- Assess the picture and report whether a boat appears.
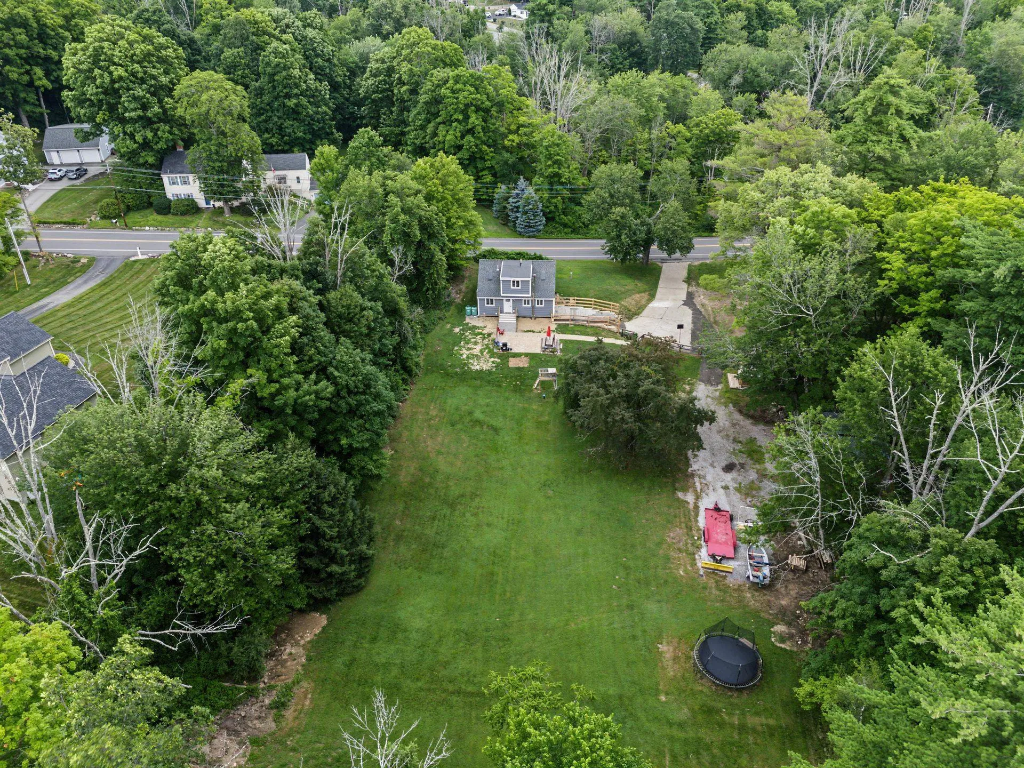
Yes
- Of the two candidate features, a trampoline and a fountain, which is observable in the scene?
trampoline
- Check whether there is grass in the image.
Yes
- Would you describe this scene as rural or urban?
rural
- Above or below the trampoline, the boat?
above it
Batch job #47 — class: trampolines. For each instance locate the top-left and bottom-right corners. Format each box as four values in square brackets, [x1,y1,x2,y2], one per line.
[693,615,768,698]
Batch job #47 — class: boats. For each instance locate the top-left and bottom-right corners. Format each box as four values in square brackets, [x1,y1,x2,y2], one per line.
[744,544,772,590]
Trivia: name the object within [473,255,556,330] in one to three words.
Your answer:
house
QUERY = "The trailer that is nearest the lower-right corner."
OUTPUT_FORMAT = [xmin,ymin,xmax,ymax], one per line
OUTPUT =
[702,498,737,560]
